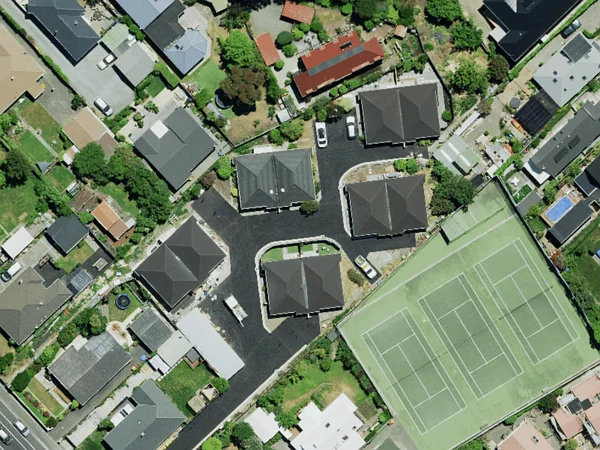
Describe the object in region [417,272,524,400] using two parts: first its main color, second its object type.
green tennis court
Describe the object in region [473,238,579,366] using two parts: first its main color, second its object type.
green tennis court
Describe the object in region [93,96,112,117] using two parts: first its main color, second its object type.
white car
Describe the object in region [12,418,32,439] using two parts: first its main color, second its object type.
white car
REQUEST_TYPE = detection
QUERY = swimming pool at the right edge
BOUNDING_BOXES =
[544,195,575,223]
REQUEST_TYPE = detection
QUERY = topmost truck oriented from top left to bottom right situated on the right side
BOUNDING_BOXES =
[354,254,378,278]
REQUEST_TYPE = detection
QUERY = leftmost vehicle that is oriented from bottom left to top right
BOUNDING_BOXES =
[0,260,23,282]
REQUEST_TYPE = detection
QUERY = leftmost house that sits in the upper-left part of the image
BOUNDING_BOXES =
[0,23,46,116]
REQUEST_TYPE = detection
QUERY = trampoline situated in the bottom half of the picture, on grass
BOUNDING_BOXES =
[115,293,131,309]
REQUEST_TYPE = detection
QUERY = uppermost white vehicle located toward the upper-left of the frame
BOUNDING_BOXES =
[96,52,117,70]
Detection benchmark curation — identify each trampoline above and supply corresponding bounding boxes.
[115,293,131,309]
[212,93,231,110]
